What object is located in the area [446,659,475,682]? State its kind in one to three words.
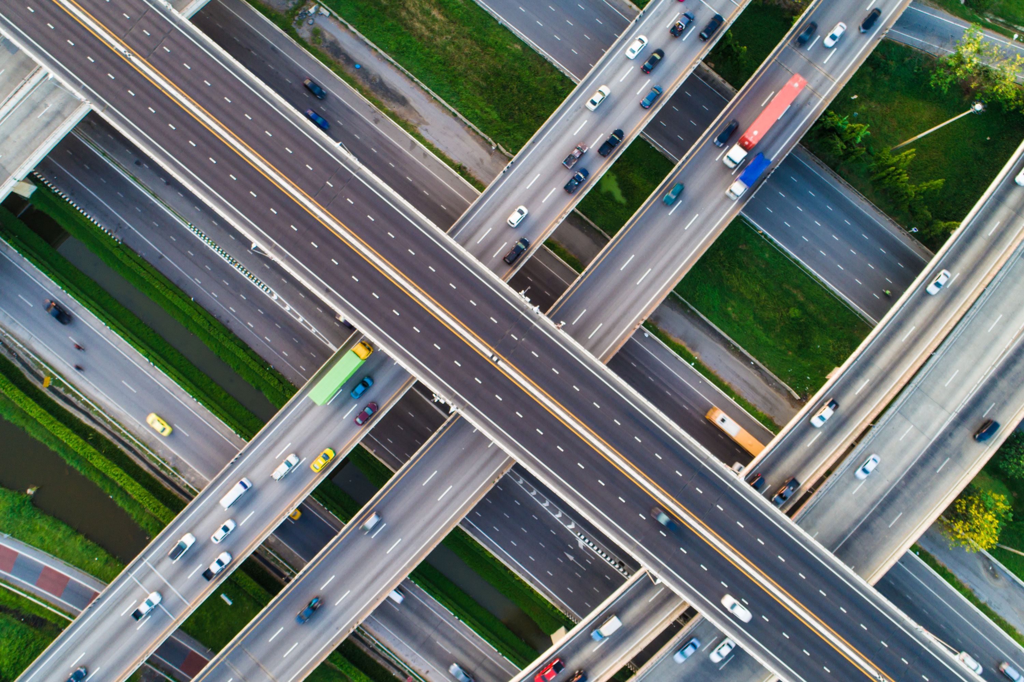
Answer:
car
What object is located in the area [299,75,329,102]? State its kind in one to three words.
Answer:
car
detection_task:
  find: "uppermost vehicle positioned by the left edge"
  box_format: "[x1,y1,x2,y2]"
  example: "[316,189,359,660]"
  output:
[42,299,74,326]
